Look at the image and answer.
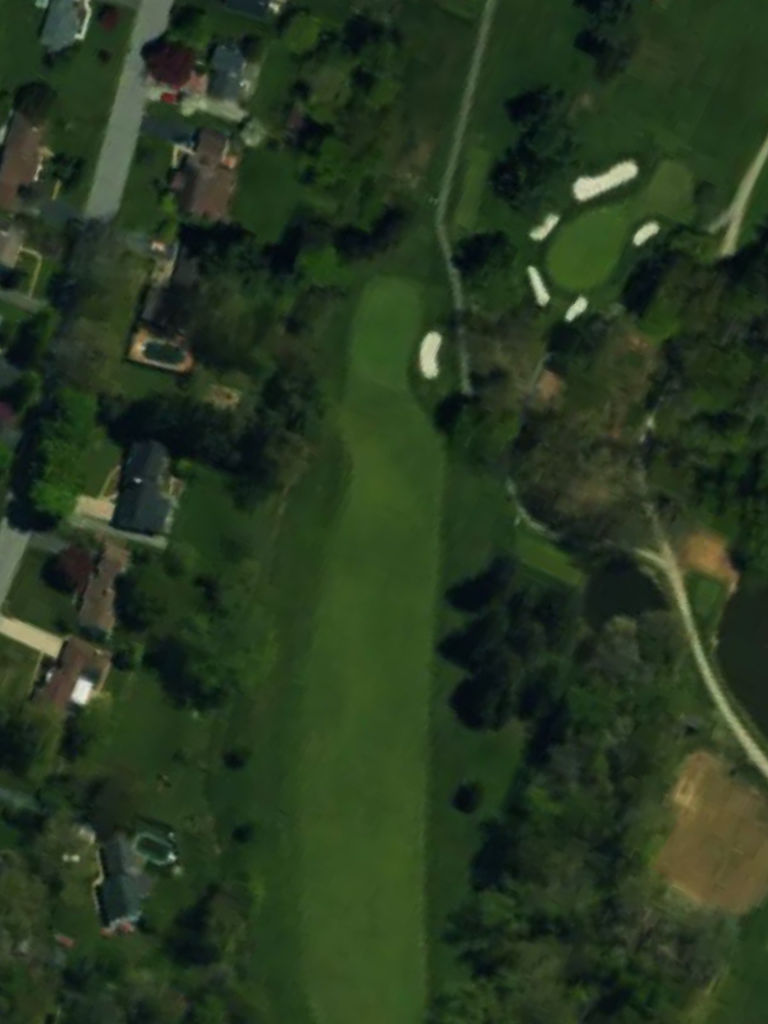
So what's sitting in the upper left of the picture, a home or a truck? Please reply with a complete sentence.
The one visible in the upper left of the picture is a home.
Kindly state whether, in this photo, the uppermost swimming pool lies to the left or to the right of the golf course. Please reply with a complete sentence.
From the viewer's perspective, the uppermost swimming pool falls to the left of the golf course.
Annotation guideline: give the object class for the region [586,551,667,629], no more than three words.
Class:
pond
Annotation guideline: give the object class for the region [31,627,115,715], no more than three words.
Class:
house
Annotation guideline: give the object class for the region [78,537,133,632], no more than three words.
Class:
house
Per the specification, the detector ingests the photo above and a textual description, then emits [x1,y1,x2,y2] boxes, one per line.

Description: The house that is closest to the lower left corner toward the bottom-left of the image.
[97,831,153,927]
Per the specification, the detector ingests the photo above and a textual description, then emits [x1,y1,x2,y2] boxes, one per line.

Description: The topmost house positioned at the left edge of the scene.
[37,0,80,53]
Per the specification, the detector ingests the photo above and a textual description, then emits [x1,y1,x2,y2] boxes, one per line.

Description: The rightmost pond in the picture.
[717,560,768,735]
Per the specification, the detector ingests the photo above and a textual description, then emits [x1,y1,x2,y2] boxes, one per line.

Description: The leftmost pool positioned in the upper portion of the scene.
[131,329,194,372]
